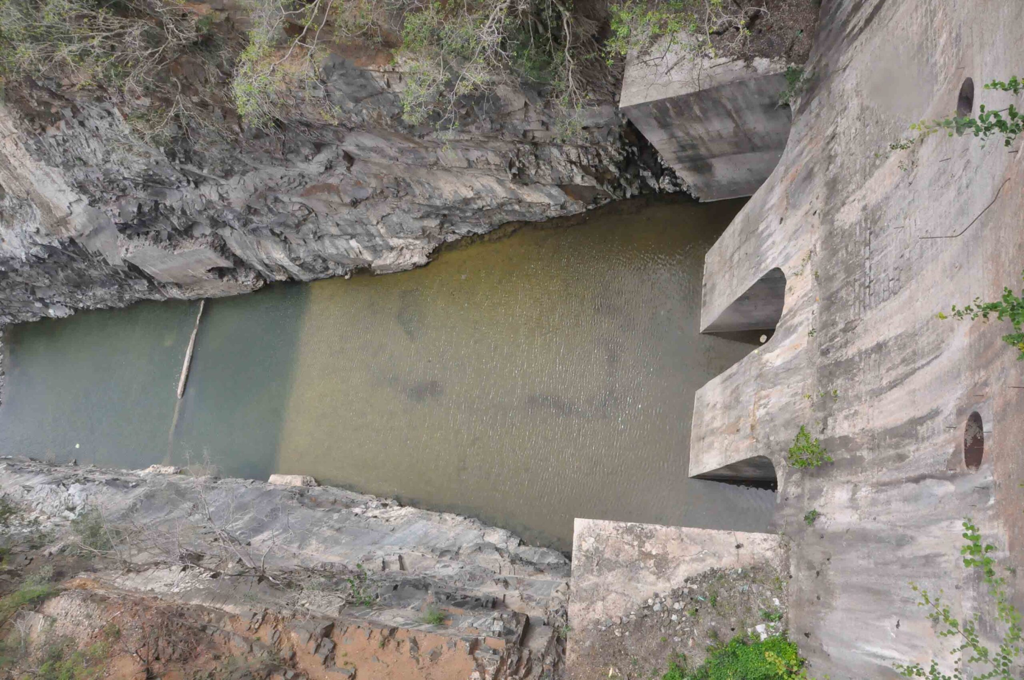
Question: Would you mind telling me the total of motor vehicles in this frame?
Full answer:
I count no motor vehicles.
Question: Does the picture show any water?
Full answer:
Yes, the picture does contain water.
